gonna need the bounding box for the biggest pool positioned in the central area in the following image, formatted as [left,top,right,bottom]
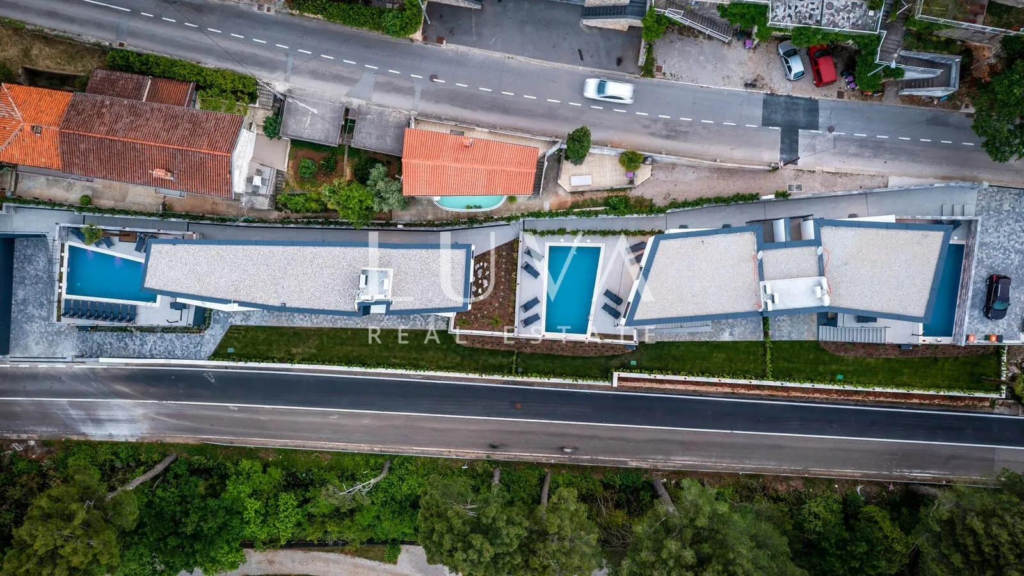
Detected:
[542,243,605,338]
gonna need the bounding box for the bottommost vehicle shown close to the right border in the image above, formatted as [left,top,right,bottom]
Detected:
[985,275,1018,322]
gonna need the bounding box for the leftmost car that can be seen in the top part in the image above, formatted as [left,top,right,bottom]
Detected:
[584,75,636,103]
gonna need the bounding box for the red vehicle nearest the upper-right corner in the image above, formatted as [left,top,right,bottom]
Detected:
[809,42,841,88]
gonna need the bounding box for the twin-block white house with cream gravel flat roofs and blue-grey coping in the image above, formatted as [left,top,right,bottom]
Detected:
[621,214,953,326]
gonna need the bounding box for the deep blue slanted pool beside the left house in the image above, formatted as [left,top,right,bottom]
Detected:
[64,241,165,307]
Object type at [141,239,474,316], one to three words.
house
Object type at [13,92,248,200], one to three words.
house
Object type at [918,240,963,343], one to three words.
swimming pool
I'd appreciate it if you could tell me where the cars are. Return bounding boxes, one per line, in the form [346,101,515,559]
[778,40,811,83]
[584,75,636,103]
[985,275,1018,322]
[809,42,841,88]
